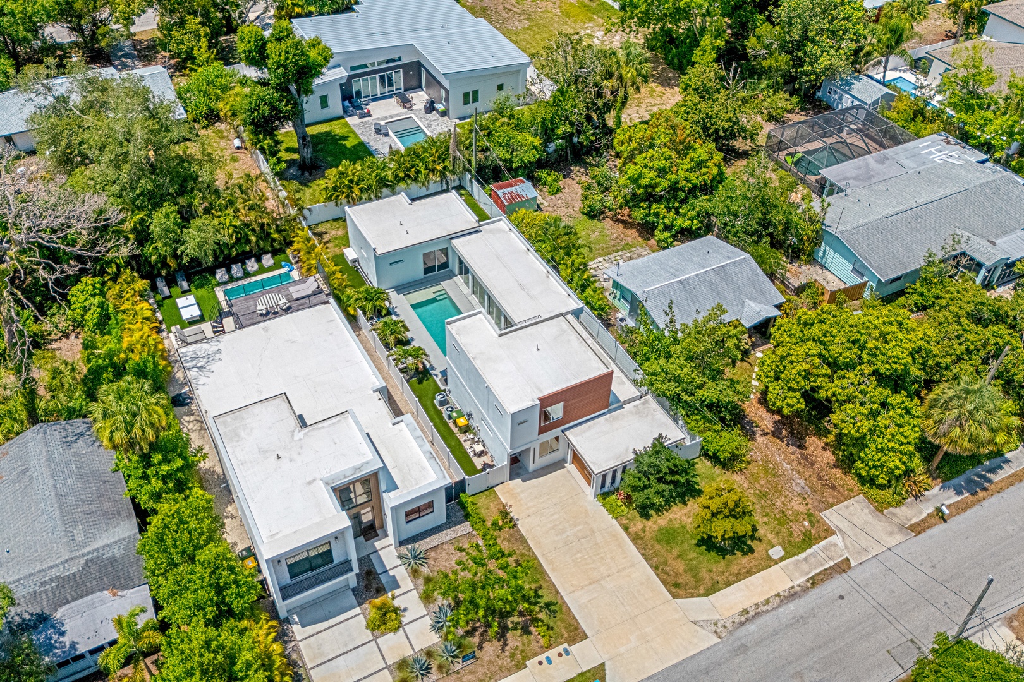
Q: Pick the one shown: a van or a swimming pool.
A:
swimming pool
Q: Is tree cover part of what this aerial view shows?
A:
Yes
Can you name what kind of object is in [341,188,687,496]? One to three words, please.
house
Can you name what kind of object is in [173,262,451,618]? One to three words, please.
house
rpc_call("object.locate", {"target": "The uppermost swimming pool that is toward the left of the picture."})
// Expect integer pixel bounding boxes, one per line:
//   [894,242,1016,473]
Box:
[381,112,435,148]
